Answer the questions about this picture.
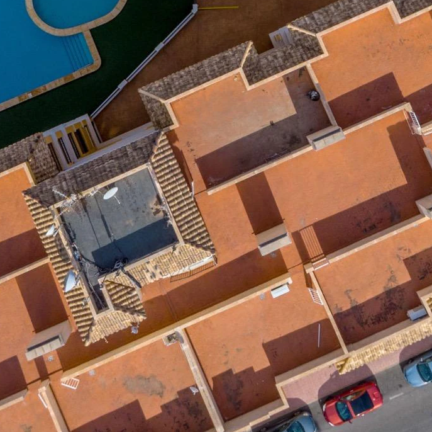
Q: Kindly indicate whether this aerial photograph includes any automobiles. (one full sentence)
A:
Yes, the frame does contain an automobile.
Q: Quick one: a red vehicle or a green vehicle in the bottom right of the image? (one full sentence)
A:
Looking in the bottom right of the image, you will find a red vehicle.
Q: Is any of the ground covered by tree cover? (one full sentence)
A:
No, tree cover can't be seen anywhere here.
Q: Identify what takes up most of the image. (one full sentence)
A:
Most of the picture is covered by buildings.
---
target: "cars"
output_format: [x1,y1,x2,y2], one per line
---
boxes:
[254,408,318,432]
[401,347,432,386]
[321,378,385,425]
